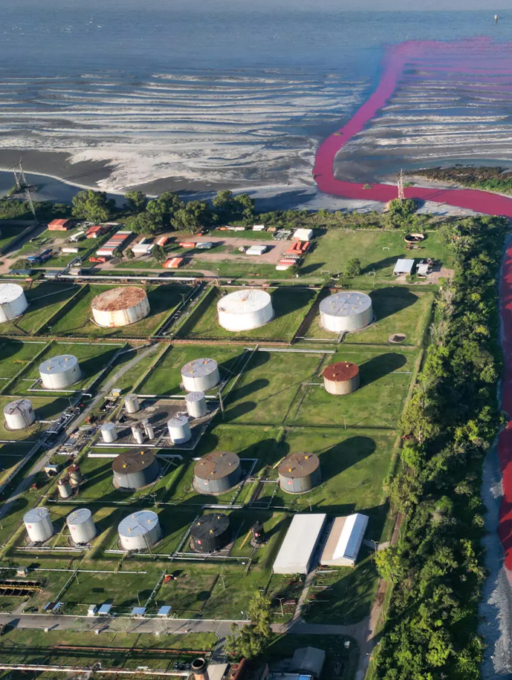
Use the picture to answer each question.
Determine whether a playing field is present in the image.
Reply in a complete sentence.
Yes, the frame does contain a playing field.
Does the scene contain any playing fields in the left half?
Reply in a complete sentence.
No, there is no playing field in the left half.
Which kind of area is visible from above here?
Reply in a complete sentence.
What you see here is an industrial area.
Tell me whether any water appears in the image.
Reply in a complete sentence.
Yes, there's water in this view.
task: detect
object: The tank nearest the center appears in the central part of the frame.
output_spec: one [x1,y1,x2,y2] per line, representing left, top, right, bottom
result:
[217,287,278,334]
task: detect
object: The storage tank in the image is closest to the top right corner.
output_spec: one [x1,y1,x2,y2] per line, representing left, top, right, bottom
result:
[318,290,376,335]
